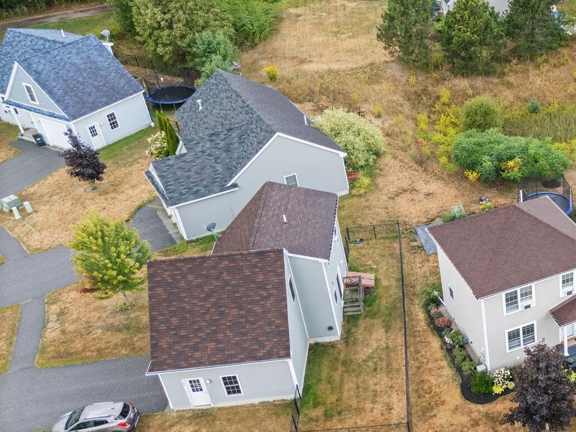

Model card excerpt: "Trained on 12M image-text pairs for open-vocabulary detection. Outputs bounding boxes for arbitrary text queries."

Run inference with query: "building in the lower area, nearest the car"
[145,181,347,411]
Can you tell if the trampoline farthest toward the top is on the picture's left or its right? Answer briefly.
left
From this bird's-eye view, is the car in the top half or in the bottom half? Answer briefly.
bottom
